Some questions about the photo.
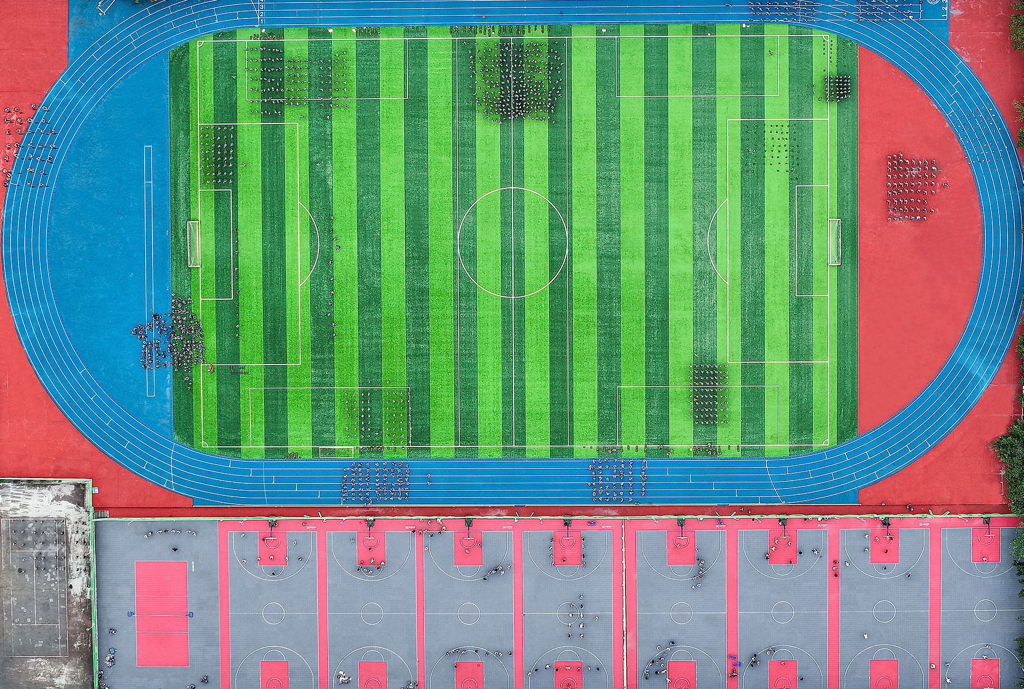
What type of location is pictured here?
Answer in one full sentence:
This image shows a sports ground.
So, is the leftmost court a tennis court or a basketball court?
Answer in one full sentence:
The leftmost court can be classified as a tennis court.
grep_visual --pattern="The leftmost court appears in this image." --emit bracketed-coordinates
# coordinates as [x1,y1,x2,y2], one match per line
[2,519,68,657]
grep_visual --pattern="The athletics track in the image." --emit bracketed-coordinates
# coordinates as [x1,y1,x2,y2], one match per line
[3,0,1024,506]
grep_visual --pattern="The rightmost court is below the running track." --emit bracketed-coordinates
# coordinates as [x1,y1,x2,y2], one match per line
[940,528,1024,689]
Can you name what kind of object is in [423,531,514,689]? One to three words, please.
basketball court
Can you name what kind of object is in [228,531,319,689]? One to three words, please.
basketball court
